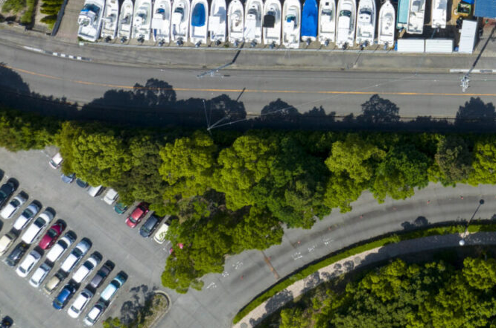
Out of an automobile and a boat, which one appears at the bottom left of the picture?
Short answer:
automobile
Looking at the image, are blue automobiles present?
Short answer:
Yes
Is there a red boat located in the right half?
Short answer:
No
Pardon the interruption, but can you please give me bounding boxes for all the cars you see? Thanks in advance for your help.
[0,180,20,212]
[83,297,109,325]
[21,211,56,245]
[137,216,164,237]
[0,223,7,237]
[152,218,178,244]
[53,280,79,309]
[38,220,68,251]
[102,180,124,206]
[86,173,114,202]
[88,261,117,291]
[17,247,45,277]
[113,203,128,215]
[6,241,34,269]
[73,252,104,284]
[12,201,44,232]
[102,273,130,305]
[126,204,149,228]
[44,270,68,295]
[47,148,61,171]
[47,230,78,262]
[28,259,56,289]
[68,286,97,317]
[0,233,18,258]
[61,239,93,272]
[1,191,31,221]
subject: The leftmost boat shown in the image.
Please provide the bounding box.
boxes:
[75,0,107,41]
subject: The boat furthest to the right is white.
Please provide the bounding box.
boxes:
[432,0,447,33]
